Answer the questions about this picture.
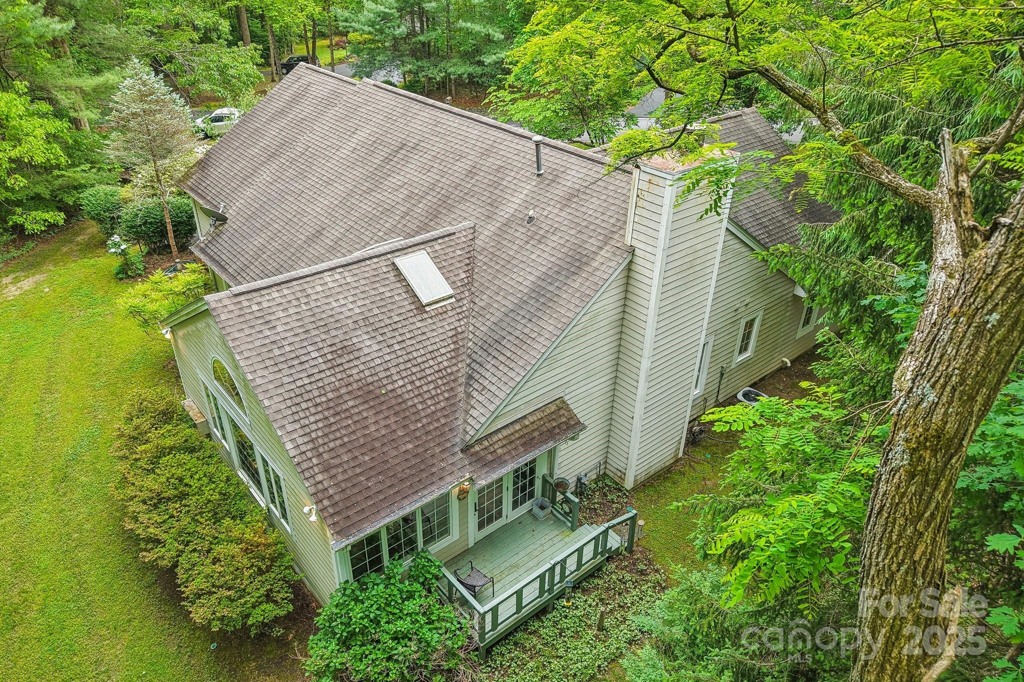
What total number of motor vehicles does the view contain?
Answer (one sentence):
The photo contains 2 motor vehicles.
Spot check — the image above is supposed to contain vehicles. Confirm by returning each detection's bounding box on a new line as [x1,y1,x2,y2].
[271,39,335,68]
[188,104,250,137]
